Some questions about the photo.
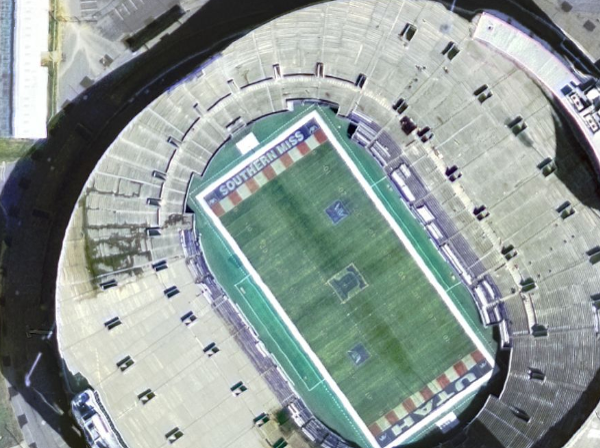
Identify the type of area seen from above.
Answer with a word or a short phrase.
sports ground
